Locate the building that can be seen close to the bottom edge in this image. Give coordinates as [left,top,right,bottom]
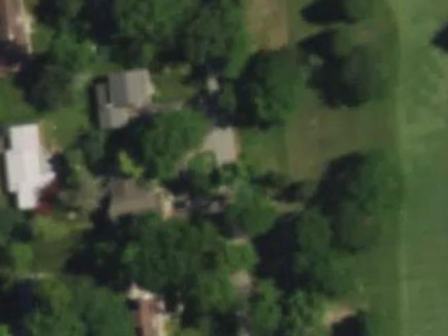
[128,285,166,336]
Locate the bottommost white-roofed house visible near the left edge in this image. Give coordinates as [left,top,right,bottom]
[5,123,57,210]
